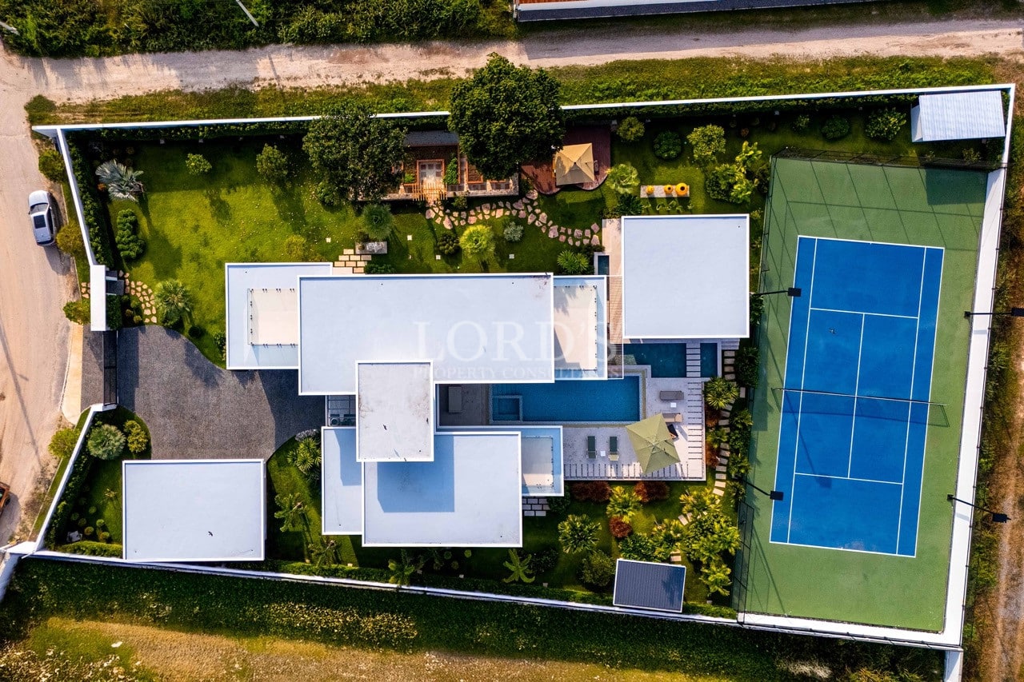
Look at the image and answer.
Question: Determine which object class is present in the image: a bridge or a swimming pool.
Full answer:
There is a swimming pool in the scene.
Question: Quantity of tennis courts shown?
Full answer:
I count 1 tennis court.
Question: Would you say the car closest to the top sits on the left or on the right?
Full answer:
The car closest to the top sits on the left side.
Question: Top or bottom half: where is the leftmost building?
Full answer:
It is in the bottom half that the leftmost building appears.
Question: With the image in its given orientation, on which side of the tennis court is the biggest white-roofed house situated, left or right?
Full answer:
Relative to the tennis court, the biggest white-roofed house lies to the left.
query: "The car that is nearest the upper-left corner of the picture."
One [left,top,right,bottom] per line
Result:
[24,188,62,246]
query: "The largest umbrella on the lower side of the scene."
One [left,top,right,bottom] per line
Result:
[626,413,680,475]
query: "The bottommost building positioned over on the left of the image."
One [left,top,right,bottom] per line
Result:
[122,458,269,562]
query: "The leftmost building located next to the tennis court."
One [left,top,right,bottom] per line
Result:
[226,263,607,547]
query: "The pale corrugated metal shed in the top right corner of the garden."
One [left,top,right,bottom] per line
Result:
[905,91,1006,146]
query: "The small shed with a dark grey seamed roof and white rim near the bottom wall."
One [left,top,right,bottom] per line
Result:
[613,558,687,613]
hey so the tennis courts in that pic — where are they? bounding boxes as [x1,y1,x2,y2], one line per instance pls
[738,158,984,632]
